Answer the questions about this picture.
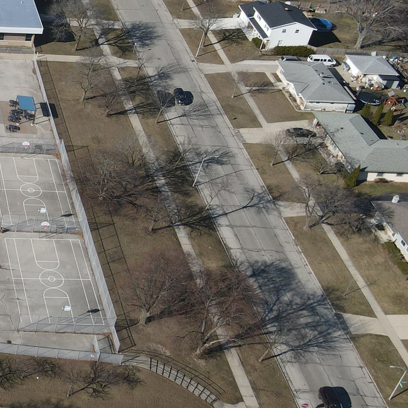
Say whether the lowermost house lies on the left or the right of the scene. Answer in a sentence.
The lowermost house is on the right side of the image.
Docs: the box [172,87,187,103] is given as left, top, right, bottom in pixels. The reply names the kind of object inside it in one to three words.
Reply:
car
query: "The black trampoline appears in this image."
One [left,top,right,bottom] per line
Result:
[358,89,383,103]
